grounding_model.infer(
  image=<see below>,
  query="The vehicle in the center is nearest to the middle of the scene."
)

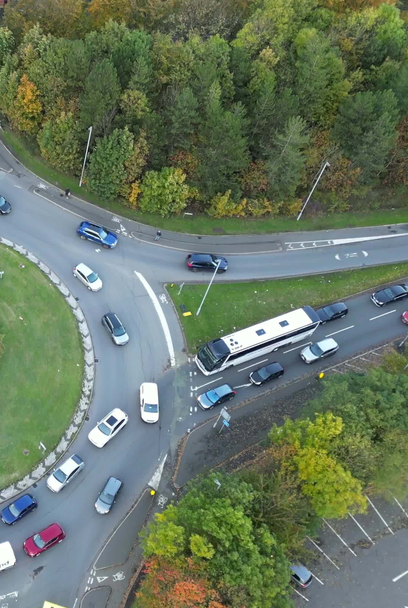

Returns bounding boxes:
[186,253,228,275]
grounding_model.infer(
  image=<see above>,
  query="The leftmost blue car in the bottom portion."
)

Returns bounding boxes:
[0,492,39,525]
